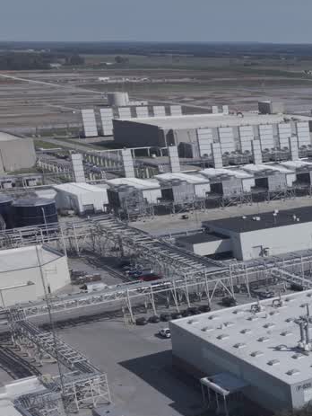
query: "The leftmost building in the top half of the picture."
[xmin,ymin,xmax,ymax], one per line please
[0,137,37,178]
